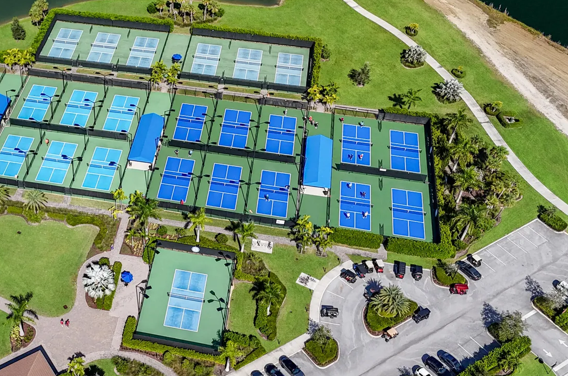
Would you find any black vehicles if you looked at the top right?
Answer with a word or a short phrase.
No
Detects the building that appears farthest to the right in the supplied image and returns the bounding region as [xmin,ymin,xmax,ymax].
[301,135,333,199]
